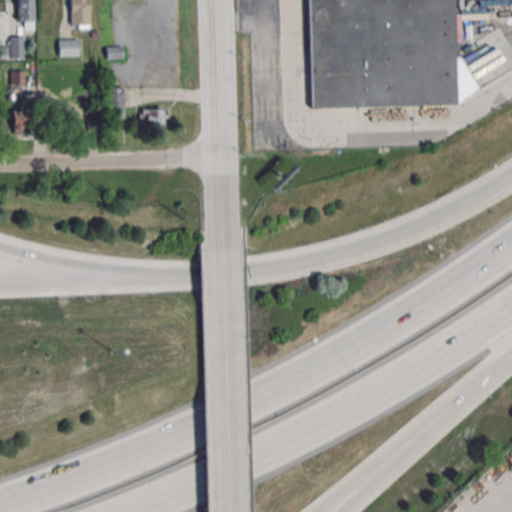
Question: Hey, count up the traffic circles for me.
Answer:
0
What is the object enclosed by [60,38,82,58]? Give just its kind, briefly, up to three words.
building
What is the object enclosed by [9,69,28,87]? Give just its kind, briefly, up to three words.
house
